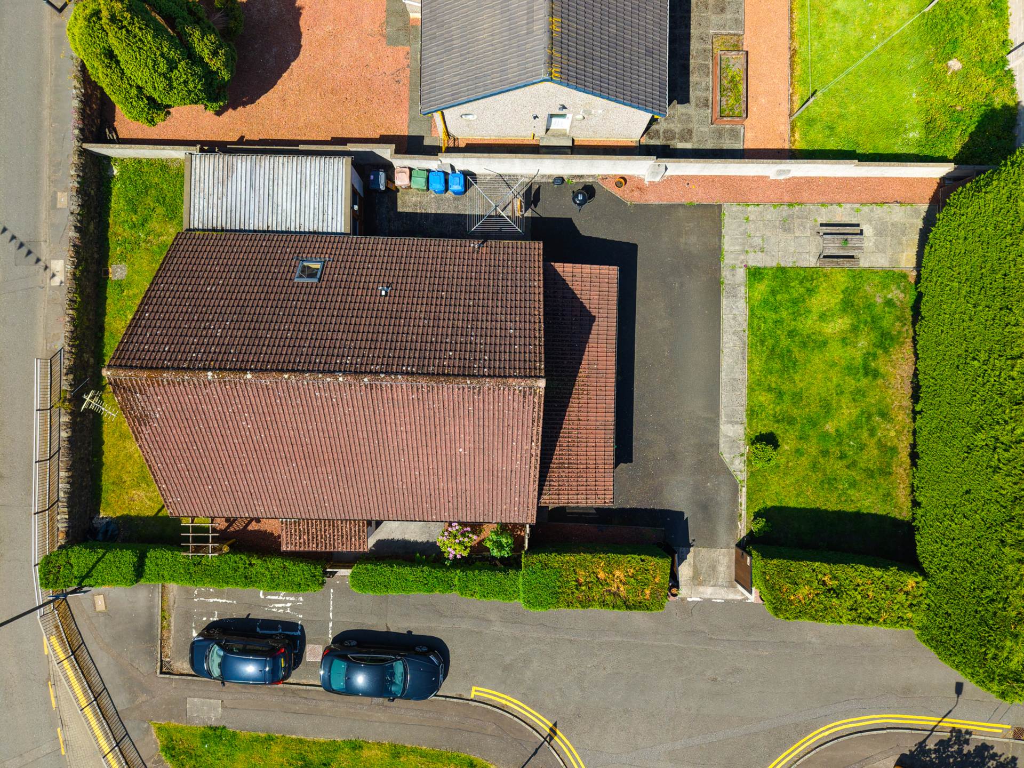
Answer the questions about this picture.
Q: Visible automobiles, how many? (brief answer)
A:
2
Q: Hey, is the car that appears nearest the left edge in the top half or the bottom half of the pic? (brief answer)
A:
bottom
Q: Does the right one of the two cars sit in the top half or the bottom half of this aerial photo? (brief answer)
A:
bottom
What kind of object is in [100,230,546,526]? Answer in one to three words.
house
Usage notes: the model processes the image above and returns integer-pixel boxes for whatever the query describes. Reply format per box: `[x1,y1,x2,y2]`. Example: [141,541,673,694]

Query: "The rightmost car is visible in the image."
[318,641,443,709]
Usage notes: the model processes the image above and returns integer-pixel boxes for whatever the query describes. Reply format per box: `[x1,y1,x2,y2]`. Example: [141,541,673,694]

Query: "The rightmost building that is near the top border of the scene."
[418,0,671,152]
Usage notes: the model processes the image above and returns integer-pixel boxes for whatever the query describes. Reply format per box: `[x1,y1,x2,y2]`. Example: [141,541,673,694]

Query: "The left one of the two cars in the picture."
[188,629,294,691]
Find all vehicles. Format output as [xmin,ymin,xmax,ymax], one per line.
[188,629,294,691]
[318,641,443,709]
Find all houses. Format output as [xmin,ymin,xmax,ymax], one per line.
[418,0,671,152]
[100,230,546,526]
